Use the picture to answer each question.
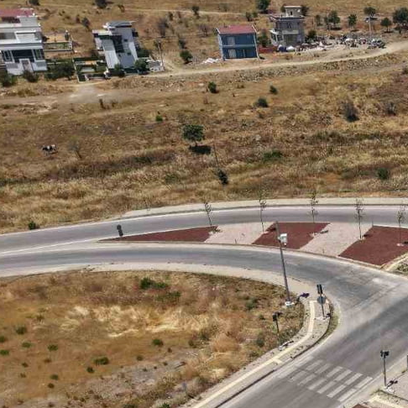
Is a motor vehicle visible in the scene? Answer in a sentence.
No, there's no motor vehicle here.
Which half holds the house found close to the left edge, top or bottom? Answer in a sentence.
The house found close to the left edge is in the top half of the image.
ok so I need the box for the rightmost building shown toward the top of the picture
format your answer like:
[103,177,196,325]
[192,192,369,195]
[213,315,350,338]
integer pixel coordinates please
[264,2,304,48]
